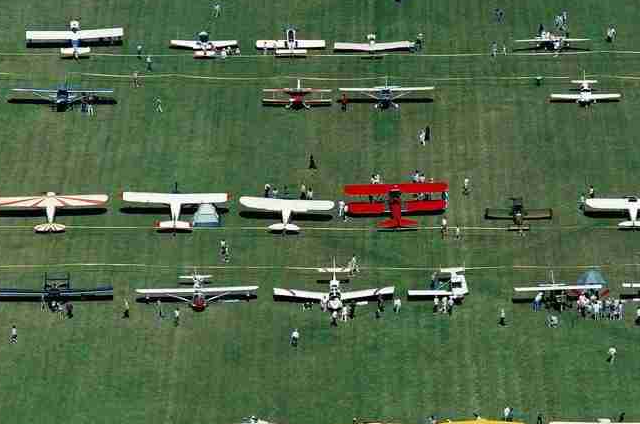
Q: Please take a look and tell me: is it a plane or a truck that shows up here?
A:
plane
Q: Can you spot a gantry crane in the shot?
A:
No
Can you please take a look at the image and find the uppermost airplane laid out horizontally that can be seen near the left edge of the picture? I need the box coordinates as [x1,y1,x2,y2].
[25,17,123,59]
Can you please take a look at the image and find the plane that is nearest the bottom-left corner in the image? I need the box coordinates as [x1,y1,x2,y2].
[0,272,113,312]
